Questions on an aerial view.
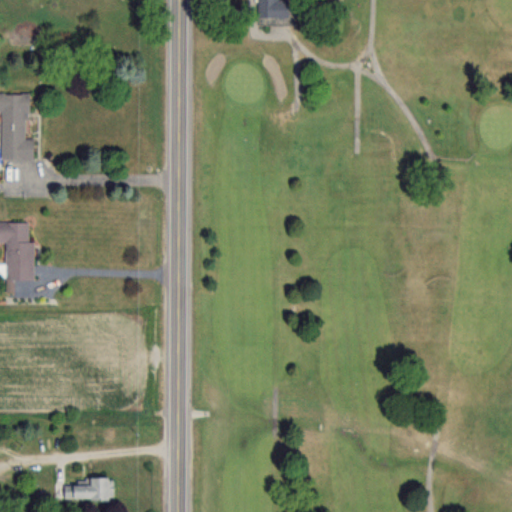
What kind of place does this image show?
golf course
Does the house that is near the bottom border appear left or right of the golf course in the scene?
left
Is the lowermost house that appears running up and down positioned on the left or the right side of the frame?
left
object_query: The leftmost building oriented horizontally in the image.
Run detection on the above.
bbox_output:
[64,478,116,502]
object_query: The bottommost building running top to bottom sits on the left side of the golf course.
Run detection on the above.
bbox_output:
[0,222,35,295]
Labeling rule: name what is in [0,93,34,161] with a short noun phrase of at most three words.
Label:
house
